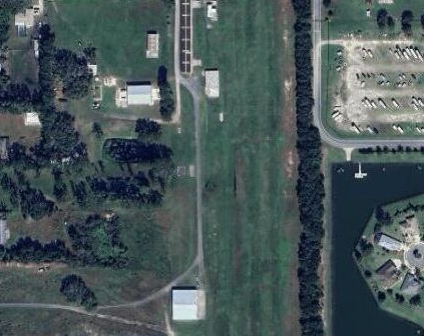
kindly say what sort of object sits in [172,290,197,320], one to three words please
hangar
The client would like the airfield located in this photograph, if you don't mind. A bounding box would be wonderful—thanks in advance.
[205,0,295,336]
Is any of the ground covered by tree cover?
Yes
